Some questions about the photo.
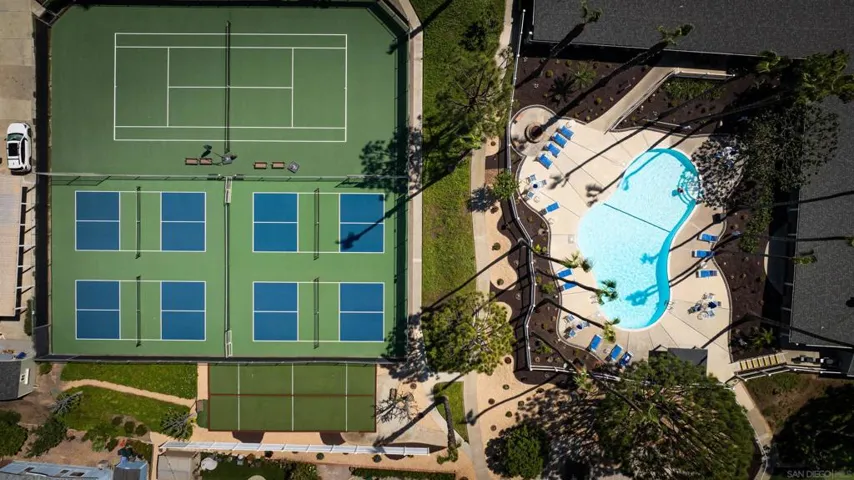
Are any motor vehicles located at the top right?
No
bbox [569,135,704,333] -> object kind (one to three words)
swimming pool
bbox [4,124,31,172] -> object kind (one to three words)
car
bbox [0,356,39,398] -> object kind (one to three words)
house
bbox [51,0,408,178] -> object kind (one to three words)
tennis court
